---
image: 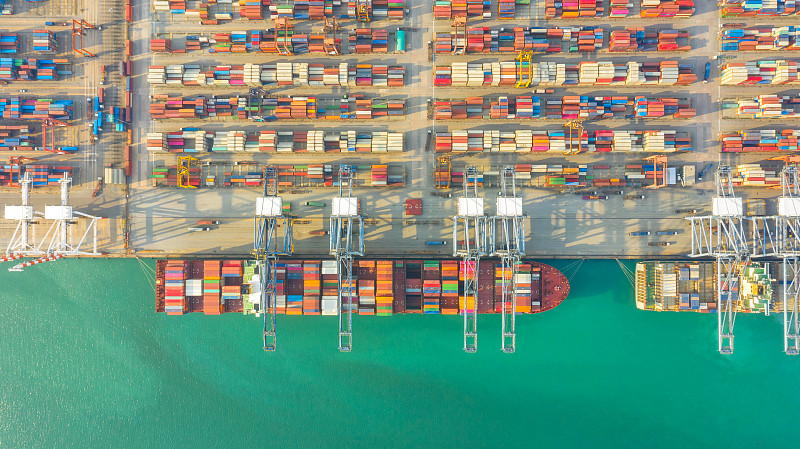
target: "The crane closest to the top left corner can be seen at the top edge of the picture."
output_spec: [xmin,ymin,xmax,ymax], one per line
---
[71,16,102,57]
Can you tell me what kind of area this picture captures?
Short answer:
port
